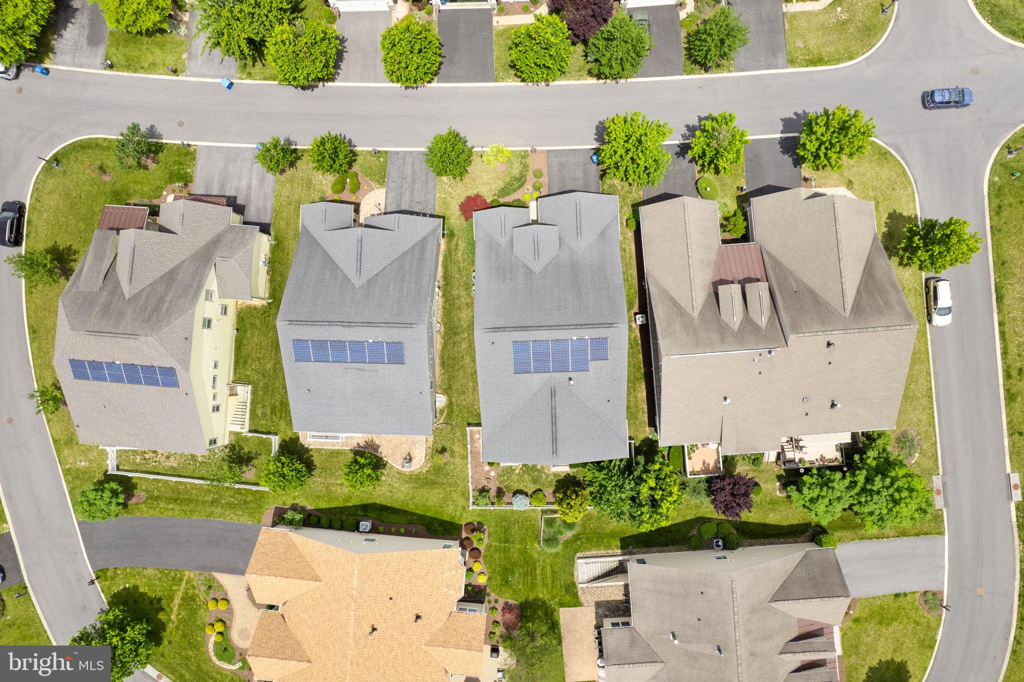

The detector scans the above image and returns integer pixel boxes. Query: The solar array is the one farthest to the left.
[68,358,179,389]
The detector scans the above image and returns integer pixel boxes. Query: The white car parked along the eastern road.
[927,278,954,326]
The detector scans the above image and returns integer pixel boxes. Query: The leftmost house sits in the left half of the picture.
[53,195,277,455]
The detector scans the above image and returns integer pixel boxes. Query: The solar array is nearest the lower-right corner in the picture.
[512,338,609,375]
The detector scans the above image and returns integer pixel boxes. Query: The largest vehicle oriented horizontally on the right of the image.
[921,85,970,111]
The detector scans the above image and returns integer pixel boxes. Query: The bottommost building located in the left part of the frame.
[245,519,493,682]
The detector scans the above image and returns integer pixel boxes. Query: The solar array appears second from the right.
[291,339,405,364]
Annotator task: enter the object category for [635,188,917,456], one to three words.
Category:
house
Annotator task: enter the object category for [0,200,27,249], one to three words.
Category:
car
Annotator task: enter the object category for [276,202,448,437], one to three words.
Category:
house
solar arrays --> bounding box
[68,358,179,389]
[291,339,405,364]
[512,338,609,375]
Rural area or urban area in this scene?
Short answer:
urban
